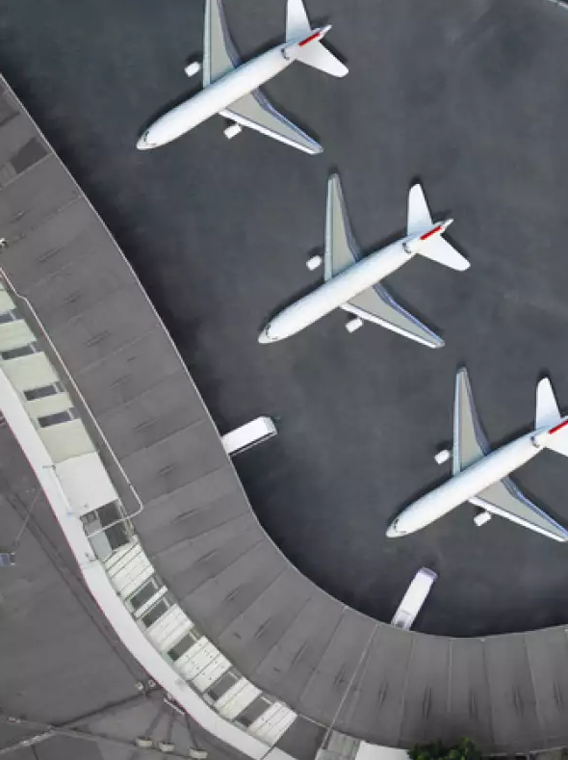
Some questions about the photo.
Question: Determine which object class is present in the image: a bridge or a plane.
plane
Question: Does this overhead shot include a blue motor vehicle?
No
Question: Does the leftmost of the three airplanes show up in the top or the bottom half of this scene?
top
